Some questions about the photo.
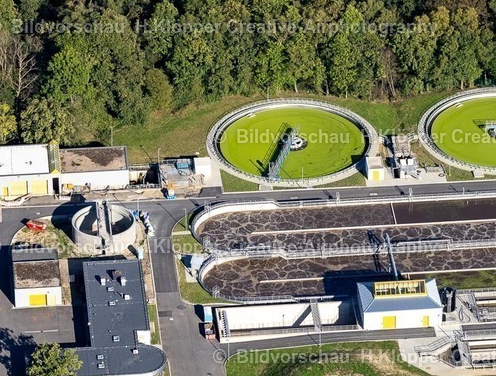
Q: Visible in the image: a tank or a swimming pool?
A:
tank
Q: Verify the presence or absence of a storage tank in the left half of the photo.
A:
Yes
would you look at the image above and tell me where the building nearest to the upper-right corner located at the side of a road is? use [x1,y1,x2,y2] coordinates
[392,130,420,180]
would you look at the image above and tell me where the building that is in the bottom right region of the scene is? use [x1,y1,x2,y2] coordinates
[359,278,443,330]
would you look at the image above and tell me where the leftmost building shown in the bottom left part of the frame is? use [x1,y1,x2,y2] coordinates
[11,250,62,308]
